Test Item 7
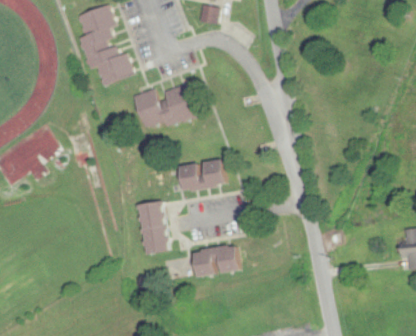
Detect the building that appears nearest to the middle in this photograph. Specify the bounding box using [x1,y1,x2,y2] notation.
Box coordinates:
[178,159,228,190]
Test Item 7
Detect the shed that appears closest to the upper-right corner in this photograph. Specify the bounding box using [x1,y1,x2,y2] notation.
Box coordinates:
[202,4,222,24]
